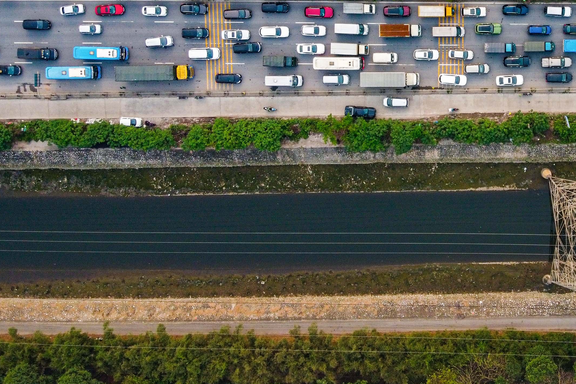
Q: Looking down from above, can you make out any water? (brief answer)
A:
Yes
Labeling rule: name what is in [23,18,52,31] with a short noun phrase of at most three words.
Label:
vehicle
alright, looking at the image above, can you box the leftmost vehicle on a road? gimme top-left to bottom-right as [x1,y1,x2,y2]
[0,64,22,77]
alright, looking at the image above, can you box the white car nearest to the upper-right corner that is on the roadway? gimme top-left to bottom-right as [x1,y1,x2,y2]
[543,5,572,18]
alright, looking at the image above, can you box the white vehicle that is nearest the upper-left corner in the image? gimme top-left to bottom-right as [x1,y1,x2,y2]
[61,3,86,16]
